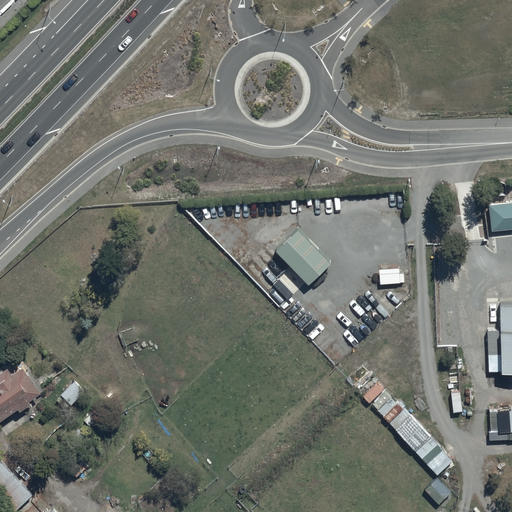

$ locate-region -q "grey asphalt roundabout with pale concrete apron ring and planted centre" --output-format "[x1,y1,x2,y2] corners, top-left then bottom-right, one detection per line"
[214,32,331,147]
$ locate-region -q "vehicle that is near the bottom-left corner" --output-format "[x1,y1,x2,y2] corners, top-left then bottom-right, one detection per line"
[14,465,31,480]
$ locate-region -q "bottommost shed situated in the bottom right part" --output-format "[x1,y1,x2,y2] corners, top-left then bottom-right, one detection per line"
[424,476,452,504]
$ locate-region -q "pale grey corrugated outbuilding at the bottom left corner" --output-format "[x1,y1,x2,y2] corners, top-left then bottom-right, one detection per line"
[0,459,32,510]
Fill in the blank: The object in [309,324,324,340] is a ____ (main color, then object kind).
white vehicle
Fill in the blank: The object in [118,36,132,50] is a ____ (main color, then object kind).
white car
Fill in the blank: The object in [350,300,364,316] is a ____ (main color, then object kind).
white vehicle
